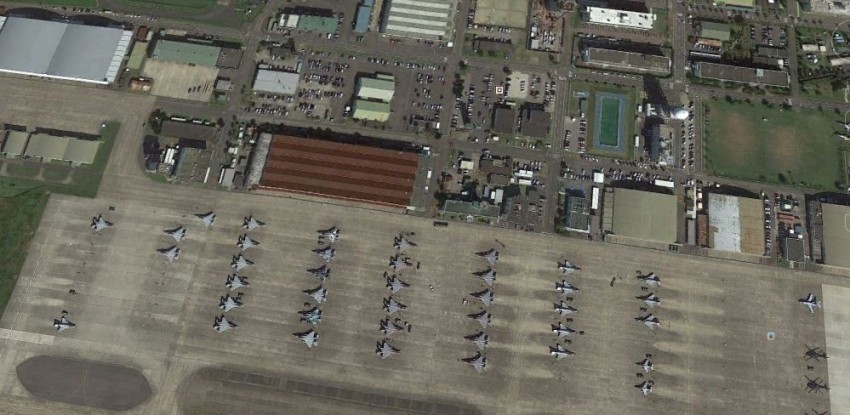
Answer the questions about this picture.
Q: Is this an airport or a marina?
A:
airport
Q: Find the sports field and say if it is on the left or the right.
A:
right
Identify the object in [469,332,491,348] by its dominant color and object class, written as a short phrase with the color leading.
gray airplane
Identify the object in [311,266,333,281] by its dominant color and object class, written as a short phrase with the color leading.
gray airplane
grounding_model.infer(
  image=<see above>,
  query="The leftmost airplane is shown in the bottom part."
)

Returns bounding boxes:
[55,318,73,331]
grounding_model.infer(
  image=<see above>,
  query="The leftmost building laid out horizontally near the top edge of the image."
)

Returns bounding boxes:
[0,16,134,85]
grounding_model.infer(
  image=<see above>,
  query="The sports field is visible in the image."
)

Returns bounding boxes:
[705,100,846,197]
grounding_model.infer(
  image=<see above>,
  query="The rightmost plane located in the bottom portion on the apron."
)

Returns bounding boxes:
[801,293,822,312]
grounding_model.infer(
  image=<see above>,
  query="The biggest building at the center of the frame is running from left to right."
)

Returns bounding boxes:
[256,135,420,209]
